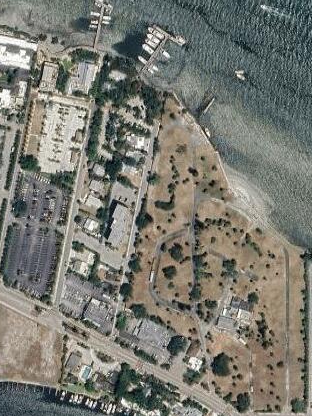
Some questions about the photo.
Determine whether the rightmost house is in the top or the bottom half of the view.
bottom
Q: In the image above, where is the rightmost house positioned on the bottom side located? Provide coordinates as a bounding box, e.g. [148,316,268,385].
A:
[217,298,251,330]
